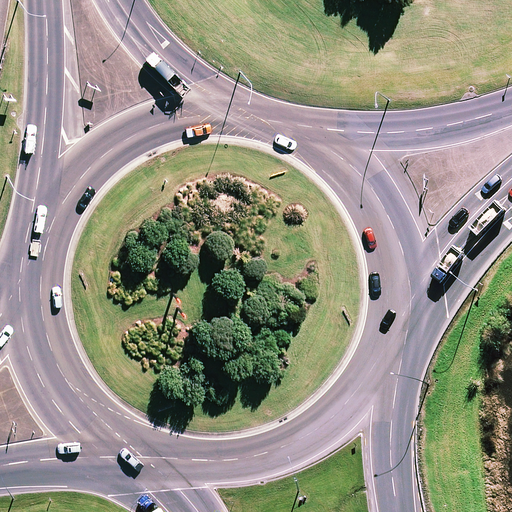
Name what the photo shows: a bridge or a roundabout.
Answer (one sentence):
The one in the frame is a roundabout.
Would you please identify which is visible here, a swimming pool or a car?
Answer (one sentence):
This aerial view contains a car.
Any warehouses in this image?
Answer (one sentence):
No, I find no warehouse anywhere in the image.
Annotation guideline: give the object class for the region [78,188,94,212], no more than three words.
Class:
car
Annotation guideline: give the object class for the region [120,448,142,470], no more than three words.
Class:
truck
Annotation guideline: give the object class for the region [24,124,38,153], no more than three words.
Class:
vehicle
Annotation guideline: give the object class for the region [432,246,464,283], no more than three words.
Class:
truck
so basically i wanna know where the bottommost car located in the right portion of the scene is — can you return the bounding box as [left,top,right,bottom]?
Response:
[381,308,396,330]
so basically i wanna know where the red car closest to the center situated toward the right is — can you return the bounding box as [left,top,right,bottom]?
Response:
[365,226,378,248]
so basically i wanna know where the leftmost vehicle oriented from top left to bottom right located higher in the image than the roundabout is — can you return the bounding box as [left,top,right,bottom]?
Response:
[145,50,190,96]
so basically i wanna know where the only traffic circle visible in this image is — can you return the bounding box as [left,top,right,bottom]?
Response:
[22,93,410,482]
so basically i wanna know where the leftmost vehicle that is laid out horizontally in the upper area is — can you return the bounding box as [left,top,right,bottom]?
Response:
[186,124,211,137]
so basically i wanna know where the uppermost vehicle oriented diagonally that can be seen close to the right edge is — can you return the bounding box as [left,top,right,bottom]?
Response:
[482,174,502,194]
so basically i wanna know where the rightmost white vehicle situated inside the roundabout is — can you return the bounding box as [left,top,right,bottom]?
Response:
[274,134,297,149]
